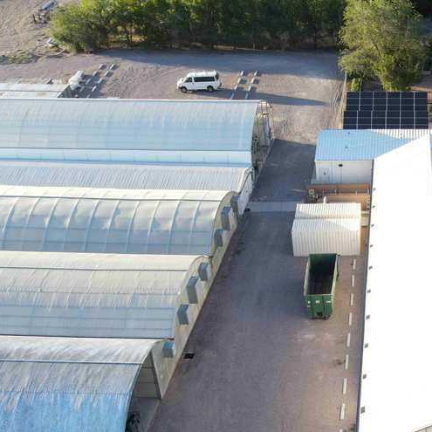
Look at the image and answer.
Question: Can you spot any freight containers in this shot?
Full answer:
Yes, a freight container is visible in the scene.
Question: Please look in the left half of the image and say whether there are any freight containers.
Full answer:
No, the scene shows no freight container in the left half of the image.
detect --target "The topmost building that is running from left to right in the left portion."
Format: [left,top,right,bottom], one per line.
[0,95,273,178]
